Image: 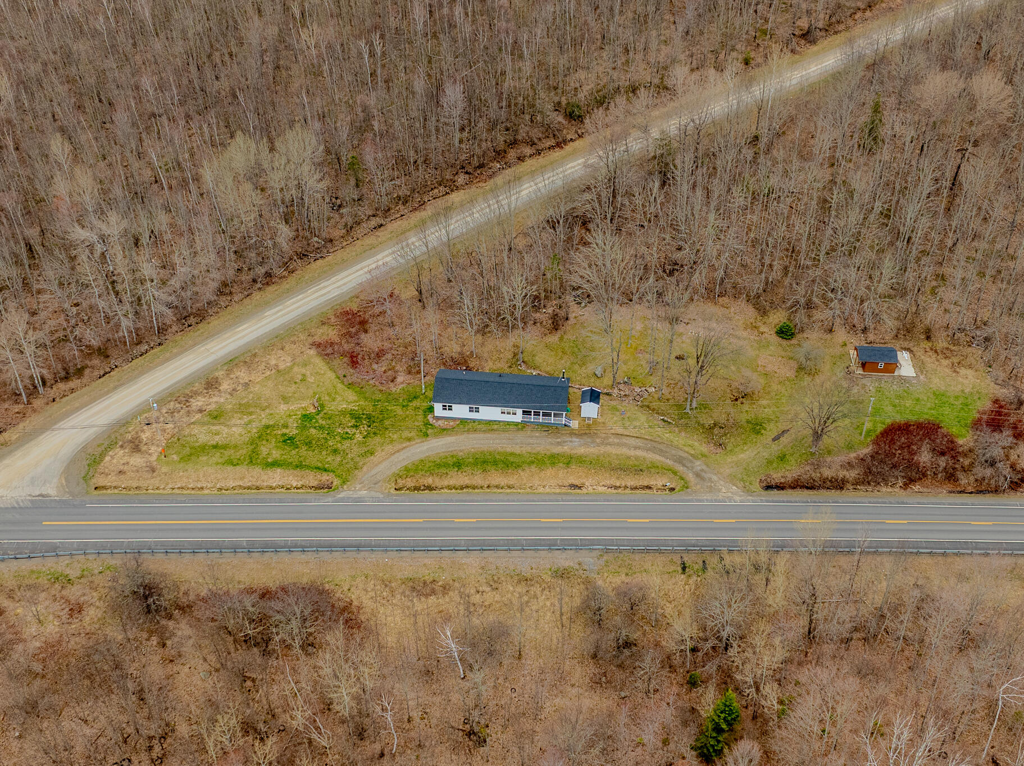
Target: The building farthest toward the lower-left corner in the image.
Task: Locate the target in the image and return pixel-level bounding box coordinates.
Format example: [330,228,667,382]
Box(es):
[432,369,570,428]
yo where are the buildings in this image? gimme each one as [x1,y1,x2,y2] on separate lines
[853,347,899,373]
[432,369,570,428]
[580,388,600,418]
